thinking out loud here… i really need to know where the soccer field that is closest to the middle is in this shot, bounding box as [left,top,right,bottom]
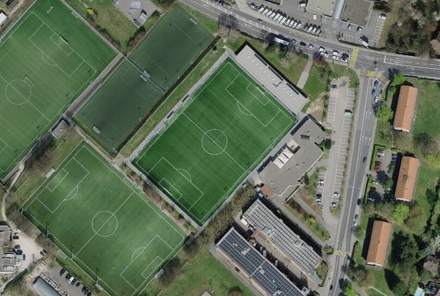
[132,56,298,225]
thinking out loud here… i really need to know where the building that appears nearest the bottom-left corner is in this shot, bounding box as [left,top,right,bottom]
[0,251,17,273]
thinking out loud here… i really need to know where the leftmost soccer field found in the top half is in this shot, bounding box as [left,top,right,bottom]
[0,0,120,180]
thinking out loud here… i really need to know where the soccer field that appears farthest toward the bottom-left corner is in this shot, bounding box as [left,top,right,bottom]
[20,139,190,296]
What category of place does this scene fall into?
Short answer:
sports ground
